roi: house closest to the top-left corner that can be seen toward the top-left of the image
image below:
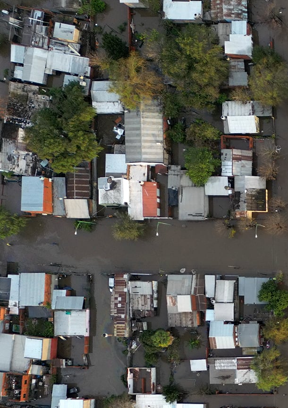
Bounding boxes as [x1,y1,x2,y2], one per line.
[7,8,54,49]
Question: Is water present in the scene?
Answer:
Yes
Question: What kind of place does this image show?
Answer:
residential area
